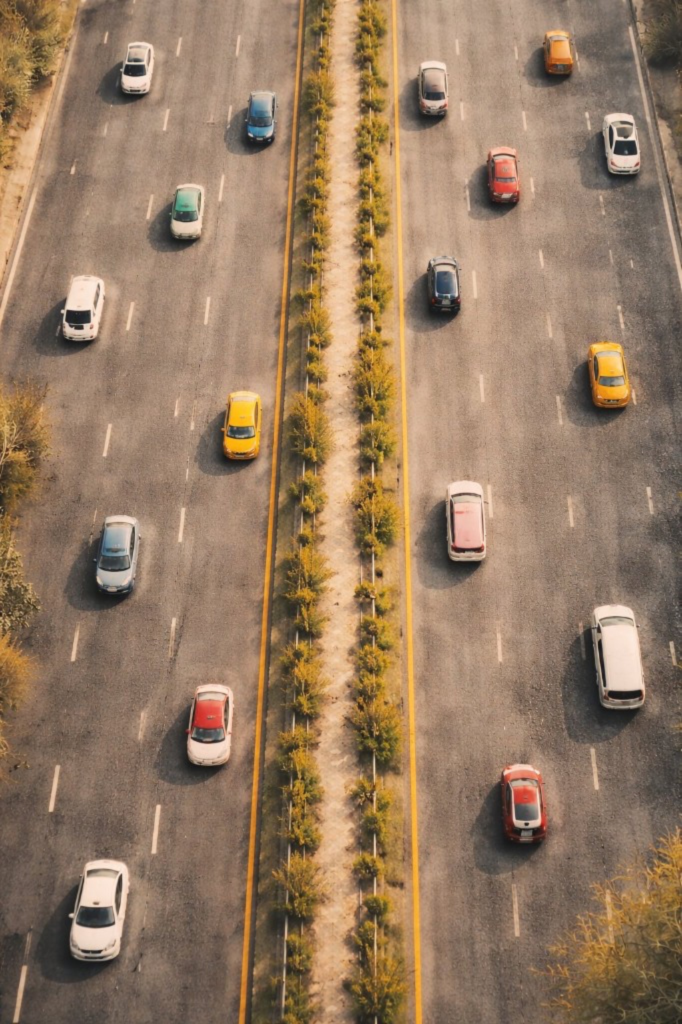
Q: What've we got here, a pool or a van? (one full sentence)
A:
Of the two, only a van appears.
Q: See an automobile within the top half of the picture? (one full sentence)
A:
Yes, I can see an automobile within the top half of the picture.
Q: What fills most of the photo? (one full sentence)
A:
The largest share of the image is taken up by paved ground.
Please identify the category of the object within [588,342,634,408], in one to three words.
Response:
car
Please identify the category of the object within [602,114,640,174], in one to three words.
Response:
car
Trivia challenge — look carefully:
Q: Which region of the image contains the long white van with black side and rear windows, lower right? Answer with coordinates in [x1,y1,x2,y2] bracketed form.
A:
[591,605,645,709]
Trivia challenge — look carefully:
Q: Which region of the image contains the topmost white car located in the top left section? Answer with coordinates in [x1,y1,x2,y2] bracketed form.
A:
[118,42,154,94]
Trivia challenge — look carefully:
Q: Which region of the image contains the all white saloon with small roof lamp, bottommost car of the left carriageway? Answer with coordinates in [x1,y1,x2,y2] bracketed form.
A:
[67,860,130,960]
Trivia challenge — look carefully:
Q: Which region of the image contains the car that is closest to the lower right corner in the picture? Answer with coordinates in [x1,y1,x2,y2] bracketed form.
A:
[499,764,550,843]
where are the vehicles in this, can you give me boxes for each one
[168,184,204,239]
[219,391,263,459]
[184,685,234,766]
[591,605,645,709]
[486,147,521,203]
[92,516,139,594]
[417,61,449,115]
[602,114,640,174]
[499,764,550,843]
[243,91,278,144]
[588,342,634,408]
[444,481,488,561]
[426,256,462,312]
[67,860,130,960]
[118,42,154,94]
[542,31,574,75]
